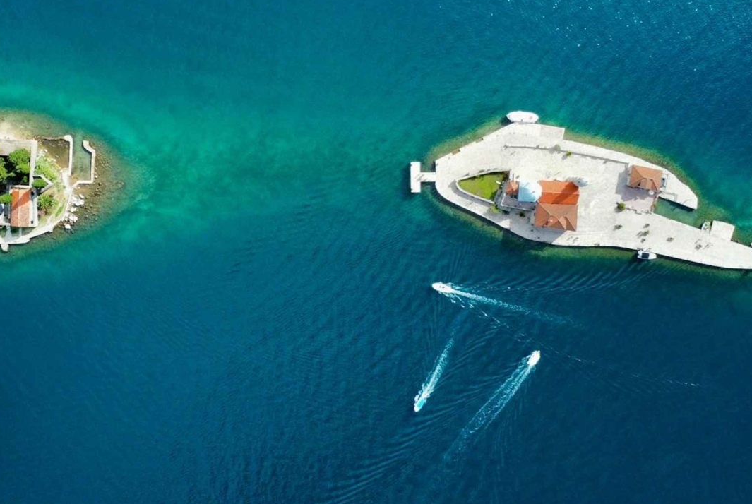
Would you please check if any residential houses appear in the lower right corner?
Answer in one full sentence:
No, I can find no residential house in the lower right corner.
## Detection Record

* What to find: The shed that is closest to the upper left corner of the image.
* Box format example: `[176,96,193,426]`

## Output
[0,140,38,176]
